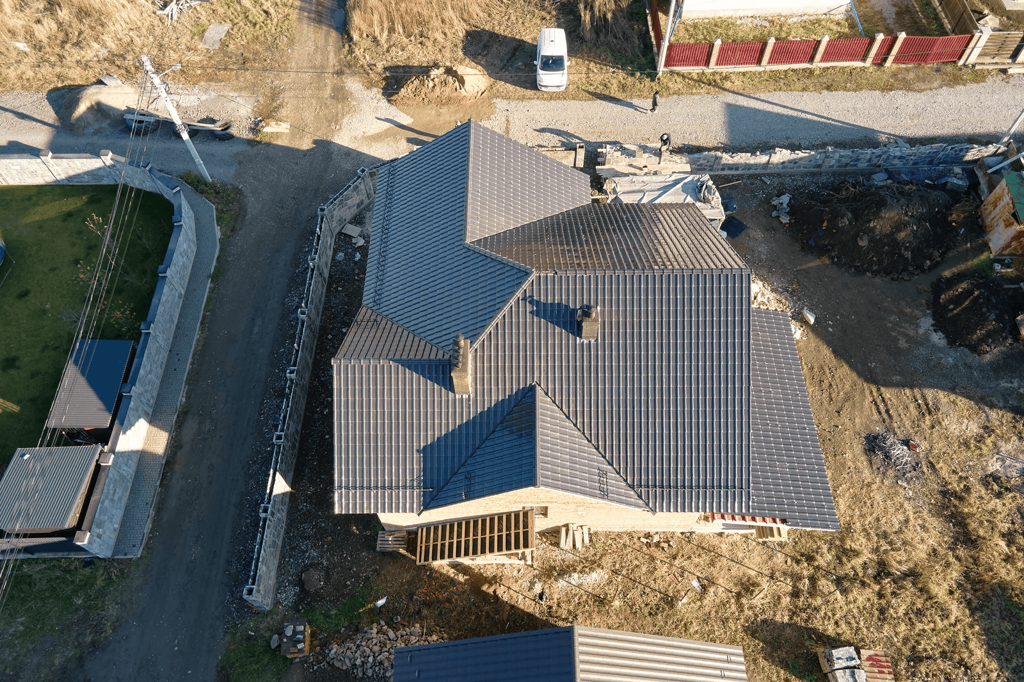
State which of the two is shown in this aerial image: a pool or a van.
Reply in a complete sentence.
This aerial view contains a van.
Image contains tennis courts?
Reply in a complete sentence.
No, no tennis court can be seen from above.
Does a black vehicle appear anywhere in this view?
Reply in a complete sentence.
No, there is no black vehicle in the image.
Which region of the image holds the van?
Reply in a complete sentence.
The van is in the top part of the image.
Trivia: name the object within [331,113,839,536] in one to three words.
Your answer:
house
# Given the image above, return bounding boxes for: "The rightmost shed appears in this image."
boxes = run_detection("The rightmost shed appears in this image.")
[970,142,1024,264]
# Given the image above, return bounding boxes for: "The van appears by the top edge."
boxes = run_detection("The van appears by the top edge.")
[535,31,569,89]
